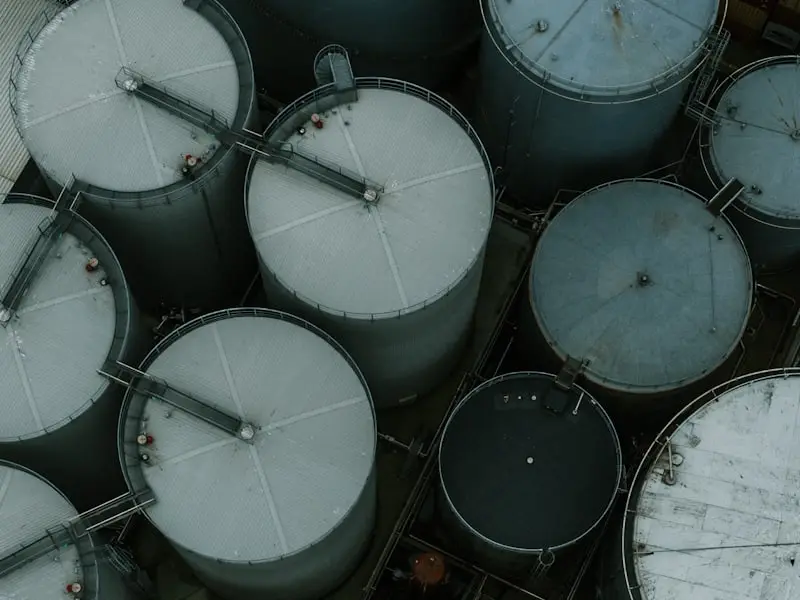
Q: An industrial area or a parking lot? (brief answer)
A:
industrial area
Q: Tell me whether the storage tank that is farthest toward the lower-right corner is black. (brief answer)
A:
No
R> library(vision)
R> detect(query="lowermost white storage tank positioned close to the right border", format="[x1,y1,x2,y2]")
[609,368,800,600]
